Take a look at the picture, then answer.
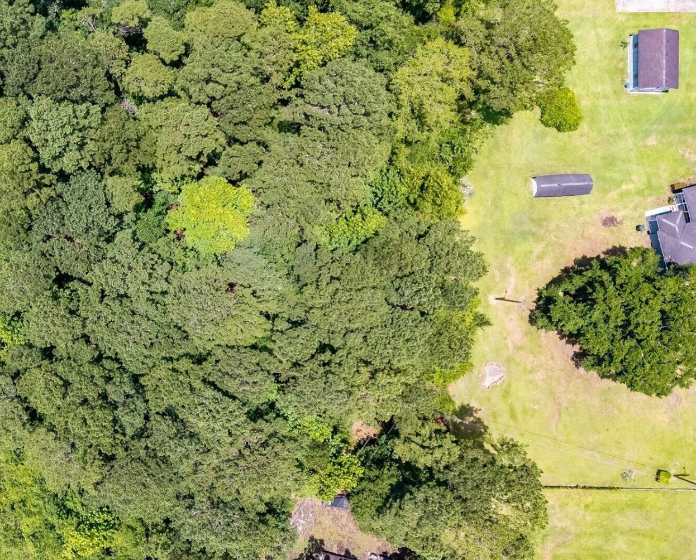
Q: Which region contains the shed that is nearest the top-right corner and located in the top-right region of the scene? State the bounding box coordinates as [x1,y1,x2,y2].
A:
[627,27,677,95]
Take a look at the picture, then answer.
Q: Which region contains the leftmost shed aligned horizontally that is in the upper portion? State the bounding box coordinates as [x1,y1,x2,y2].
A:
[530,173,597,198]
